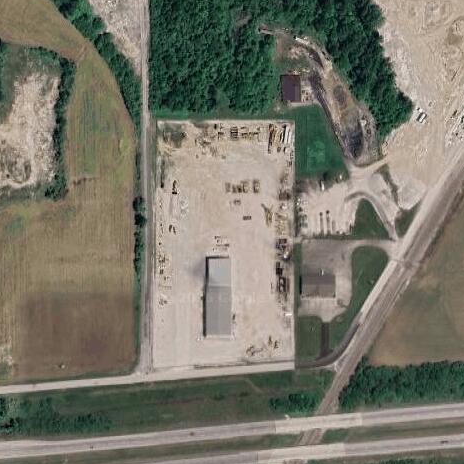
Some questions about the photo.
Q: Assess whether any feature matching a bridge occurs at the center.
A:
No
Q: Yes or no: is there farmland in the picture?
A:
Yes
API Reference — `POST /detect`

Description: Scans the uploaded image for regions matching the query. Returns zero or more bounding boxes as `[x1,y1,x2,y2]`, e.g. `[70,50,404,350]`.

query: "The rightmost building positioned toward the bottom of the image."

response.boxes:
[302,269,336,298]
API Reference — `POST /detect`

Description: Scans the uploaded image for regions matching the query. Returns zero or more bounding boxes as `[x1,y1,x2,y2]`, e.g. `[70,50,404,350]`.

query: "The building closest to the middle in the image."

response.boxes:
[208,257,232,286]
